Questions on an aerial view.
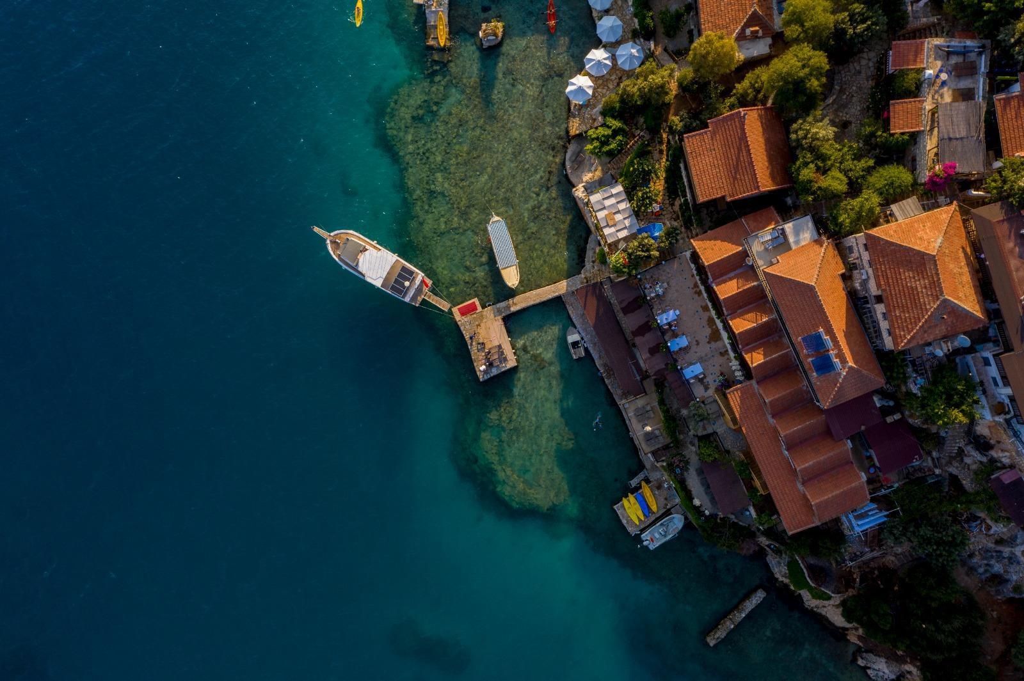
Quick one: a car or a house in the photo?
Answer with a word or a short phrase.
house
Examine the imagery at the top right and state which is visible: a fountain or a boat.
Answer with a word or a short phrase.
boat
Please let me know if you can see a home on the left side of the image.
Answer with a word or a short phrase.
No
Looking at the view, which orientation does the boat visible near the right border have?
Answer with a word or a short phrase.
from left to right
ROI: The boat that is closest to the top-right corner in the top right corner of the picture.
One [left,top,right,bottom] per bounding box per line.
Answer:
[938,44,990,65]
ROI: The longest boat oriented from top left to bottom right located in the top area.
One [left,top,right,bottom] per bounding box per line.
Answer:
[311,226,432,306]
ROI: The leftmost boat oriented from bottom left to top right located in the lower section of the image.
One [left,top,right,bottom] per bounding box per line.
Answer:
[641,514,687,553]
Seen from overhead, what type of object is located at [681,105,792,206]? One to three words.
house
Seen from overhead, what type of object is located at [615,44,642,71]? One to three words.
umbrella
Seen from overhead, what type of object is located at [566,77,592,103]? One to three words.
umbrella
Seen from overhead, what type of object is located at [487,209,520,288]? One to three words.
boat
